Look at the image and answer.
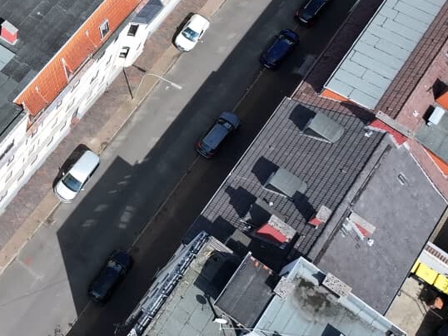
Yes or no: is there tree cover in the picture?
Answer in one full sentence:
No, the picture contains no tree cover.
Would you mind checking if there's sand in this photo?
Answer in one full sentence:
No, no sand is visible.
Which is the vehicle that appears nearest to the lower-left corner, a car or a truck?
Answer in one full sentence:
What you see as the vehicle that appears nearest to the lower-left corner is a car.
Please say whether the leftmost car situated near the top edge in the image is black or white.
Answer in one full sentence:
In this view, the leftmost car situated near the top edge is white.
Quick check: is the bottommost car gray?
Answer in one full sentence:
No, the bottommost car is actually black.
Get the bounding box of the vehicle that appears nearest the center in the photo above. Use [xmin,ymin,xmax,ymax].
[190,110,241,166]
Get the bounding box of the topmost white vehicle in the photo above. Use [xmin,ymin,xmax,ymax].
[170,12,213,57]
